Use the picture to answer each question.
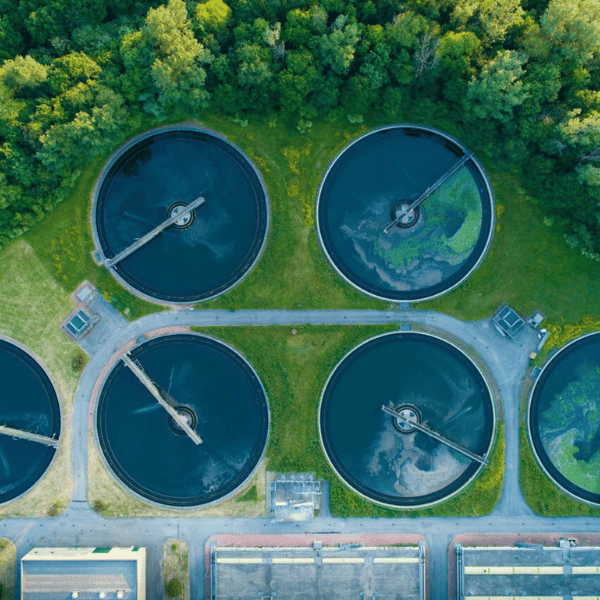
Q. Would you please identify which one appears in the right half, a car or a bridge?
bridge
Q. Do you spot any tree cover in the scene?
Yes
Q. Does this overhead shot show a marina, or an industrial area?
industrial area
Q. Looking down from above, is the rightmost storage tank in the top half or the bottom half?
bottom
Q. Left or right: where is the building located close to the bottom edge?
left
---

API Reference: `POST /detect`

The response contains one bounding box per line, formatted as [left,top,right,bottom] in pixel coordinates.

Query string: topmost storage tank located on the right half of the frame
[316,124,495,303]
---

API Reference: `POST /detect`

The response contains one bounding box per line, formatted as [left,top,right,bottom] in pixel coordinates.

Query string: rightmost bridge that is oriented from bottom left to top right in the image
[384,148,476,233]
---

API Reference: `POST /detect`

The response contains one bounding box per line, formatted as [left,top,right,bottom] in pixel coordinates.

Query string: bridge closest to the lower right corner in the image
[382,405,492,469]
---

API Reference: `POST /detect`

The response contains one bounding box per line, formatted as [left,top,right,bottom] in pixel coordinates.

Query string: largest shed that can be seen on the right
[489,304,526,339]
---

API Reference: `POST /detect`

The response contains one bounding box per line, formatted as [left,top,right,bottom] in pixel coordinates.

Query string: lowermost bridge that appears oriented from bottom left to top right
[103,198,206,267]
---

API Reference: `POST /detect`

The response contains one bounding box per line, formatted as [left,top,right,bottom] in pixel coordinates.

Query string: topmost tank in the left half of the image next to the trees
[93,127,271,305]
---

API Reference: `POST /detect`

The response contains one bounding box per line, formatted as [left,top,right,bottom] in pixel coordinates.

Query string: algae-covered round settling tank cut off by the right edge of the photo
[527,332,600,507]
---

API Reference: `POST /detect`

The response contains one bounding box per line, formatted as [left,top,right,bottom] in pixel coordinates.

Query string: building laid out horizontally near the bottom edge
[21,547,146,600]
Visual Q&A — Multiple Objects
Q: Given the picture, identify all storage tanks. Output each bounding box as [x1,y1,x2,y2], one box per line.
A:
[318,330,496,509]
[93,127,271,305]
[316,124,495,303]
[93,331,272,509]
[527,332,600,507]
[0,336,64,506]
